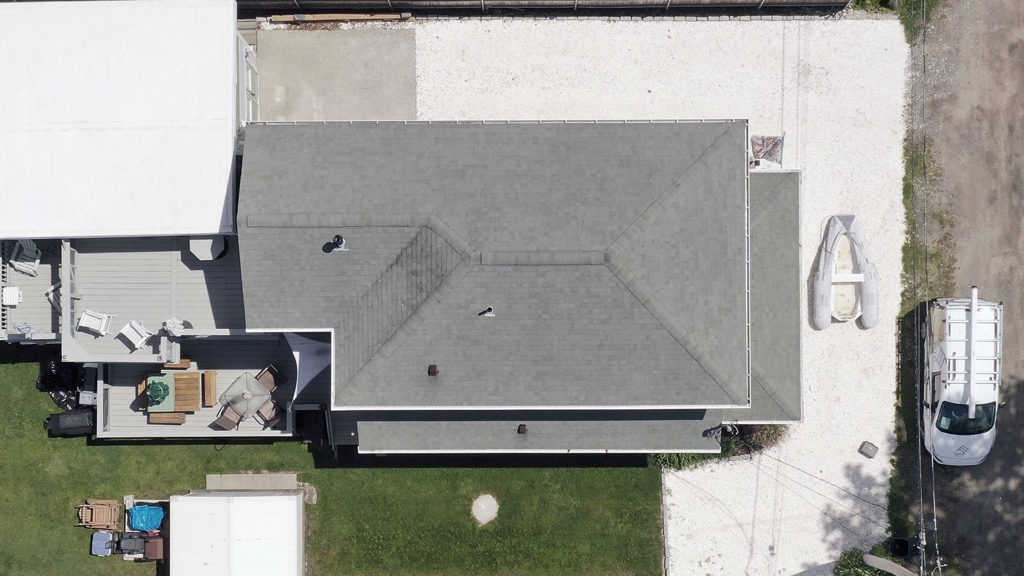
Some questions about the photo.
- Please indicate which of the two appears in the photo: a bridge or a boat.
boat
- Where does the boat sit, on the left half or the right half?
right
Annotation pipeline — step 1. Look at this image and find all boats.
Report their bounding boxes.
[815,214,878,329]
